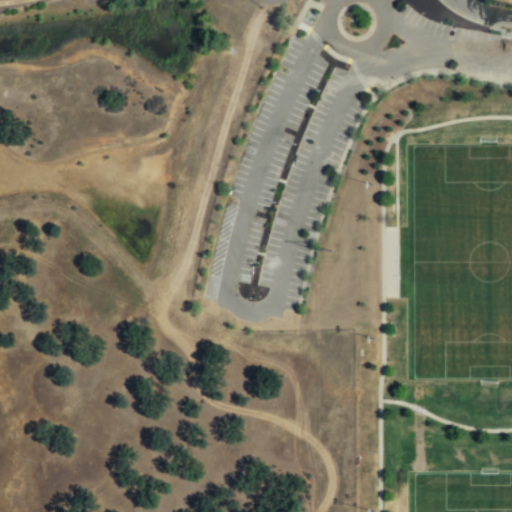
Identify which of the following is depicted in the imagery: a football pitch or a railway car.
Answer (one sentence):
Of the two, only a football pitch appears.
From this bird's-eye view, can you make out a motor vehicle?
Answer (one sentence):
No, there's no motor vehicle here.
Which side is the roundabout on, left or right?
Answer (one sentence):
It is on the right.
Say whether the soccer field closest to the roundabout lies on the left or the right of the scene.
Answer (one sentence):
The soccer field closest to the roundabout sits on the right side.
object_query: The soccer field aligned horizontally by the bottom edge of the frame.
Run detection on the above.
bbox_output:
[410,474,512,512]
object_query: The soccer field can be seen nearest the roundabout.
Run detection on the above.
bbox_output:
[408,145,512,379]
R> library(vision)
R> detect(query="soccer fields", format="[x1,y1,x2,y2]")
[410,474,512,512]
[408,145,512,379]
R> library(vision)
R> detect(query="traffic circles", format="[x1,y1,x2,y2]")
[326,0,390,54]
